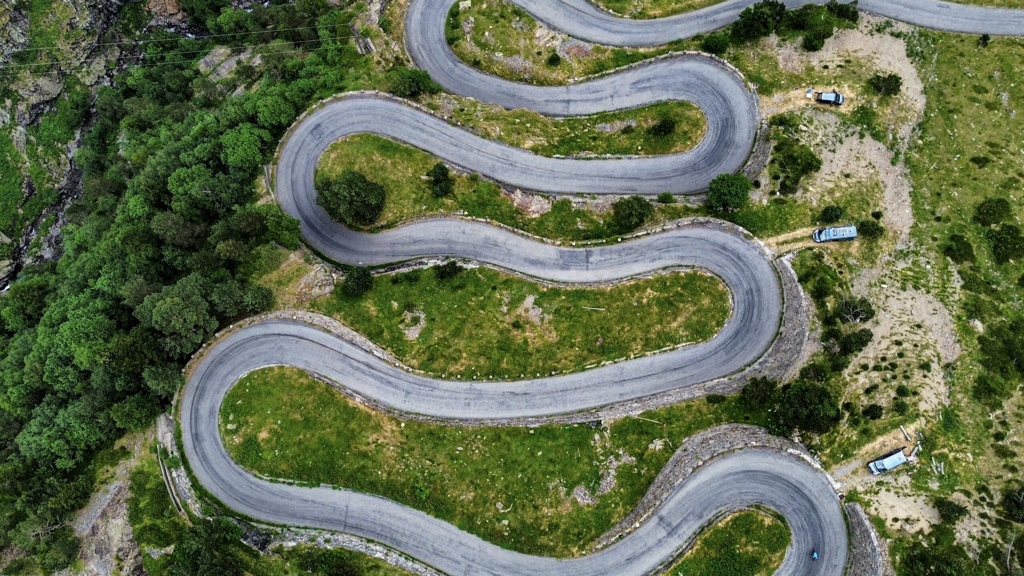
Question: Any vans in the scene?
Yes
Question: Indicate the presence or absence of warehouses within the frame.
No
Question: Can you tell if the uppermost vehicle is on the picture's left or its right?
right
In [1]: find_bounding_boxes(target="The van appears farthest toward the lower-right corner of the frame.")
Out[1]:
[864,445,913,476]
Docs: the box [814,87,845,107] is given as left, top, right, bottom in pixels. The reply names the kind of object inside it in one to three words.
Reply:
vehicle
